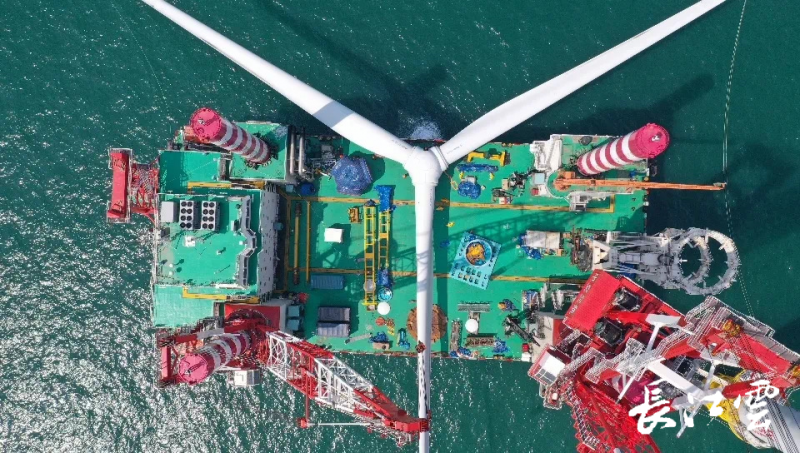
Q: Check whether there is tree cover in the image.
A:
No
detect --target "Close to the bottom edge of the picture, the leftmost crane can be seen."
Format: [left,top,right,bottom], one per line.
[152,305,438,444]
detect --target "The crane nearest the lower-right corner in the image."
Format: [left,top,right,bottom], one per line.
[527,269,800,453]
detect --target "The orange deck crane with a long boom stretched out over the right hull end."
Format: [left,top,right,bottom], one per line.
[546,171,731,195]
